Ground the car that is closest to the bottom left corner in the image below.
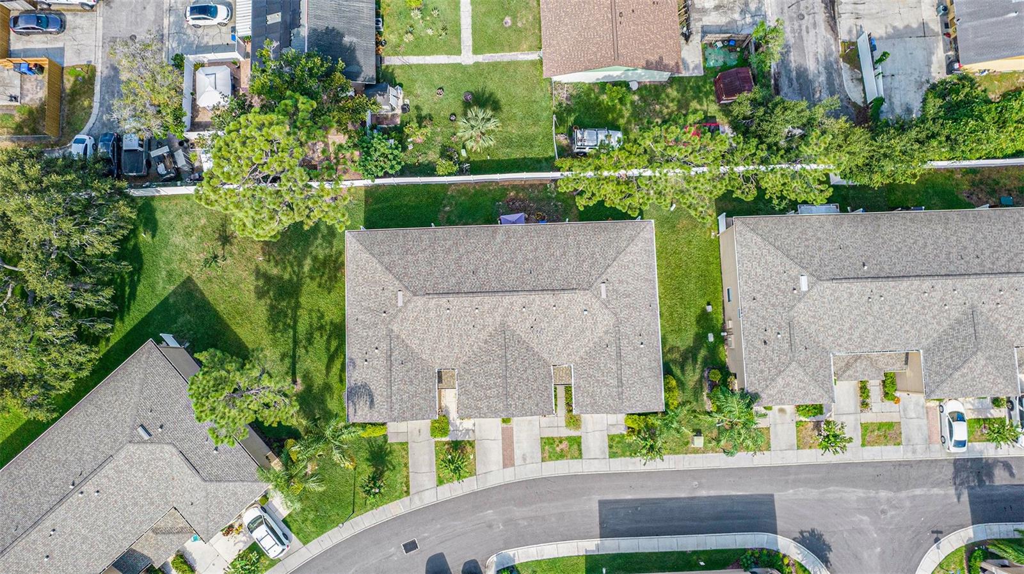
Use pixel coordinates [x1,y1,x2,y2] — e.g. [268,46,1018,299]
[245,505,289,559]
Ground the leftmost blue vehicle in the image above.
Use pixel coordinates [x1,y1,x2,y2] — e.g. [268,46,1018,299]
[10,11,64,36]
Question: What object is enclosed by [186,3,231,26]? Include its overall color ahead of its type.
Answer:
white car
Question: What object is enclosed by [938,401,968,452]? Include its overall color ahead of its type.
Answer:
white car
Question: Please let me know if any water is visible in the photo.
No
